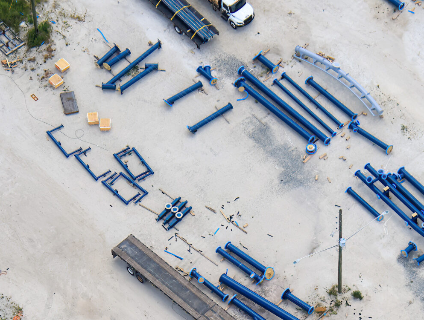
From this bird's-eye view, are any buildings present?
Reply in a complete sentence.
No, the picture doesn't show any building.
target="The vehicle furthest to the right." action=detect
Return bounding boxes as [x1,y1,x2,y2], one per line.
[189,0,254,30]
